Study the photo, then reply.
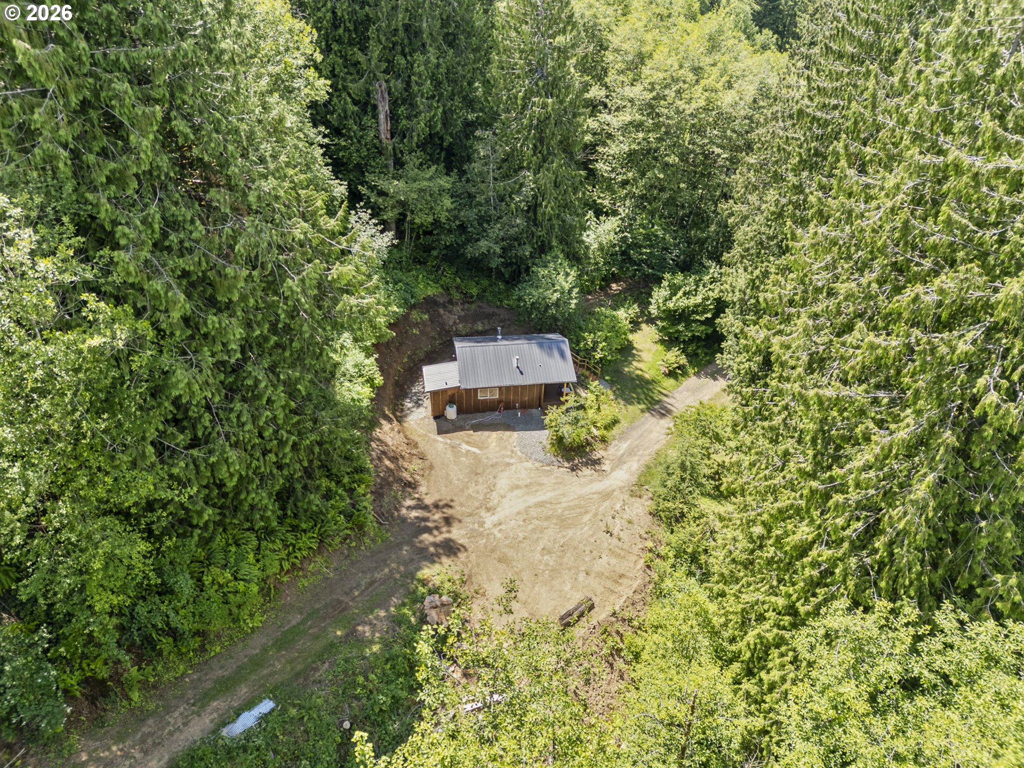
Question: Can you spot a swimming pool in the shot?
No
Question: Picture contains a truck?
No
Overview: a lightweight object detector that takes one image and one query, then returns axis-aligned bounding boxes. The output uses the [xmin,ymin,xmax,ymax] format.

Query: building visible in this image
[423,326,575,419]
